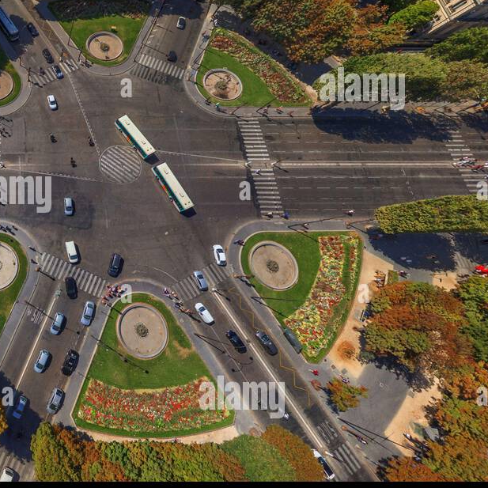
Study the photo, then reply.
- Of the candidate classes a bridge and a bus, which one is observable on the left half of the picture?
bus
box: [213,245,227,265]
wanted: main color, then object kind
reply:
white car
